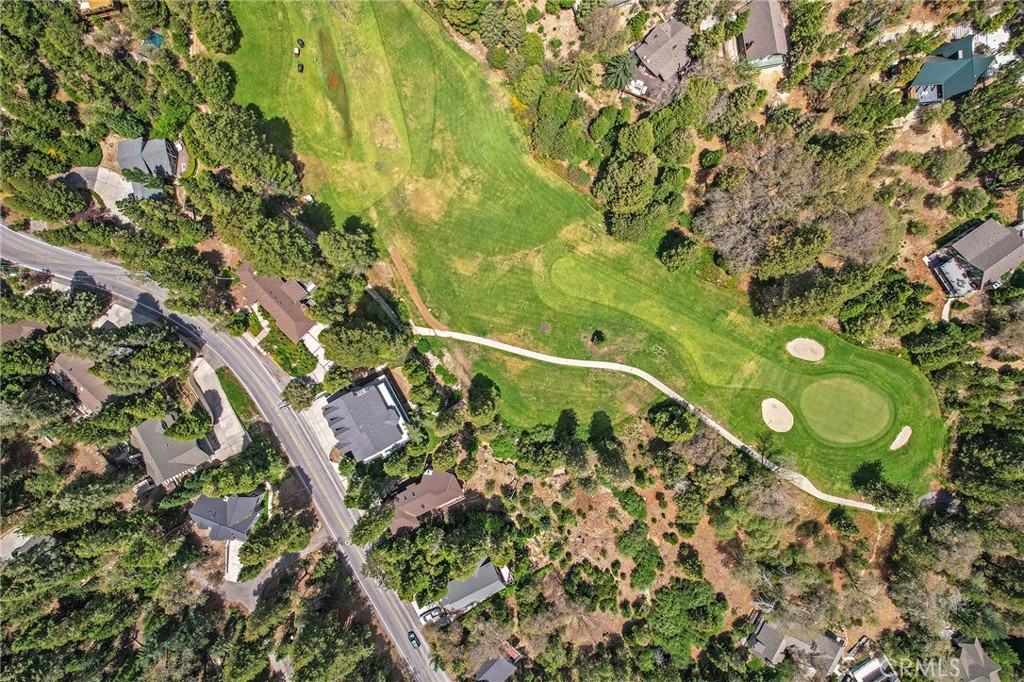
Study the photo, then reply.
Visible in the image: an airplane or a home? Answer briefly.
home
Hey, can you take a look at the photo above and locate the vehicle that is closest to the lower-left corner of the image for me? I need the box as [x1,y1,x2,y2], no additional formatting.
[10,544,24,562]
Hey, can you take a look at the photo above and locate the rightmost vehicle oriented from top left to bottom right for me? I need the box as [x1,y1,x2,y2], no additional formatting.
[407,630,420,647]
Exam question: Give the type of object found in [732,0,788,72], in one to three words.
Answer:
house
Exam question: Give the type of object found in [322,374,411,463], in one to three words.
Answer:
house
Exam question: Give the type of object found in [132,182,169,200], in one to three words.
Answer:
building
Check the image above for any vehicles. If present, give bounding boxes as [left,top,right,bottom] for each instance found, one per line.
[294,47,301,58]
[297,39,306,50]
[305,195,314,203]
[10,544,24,562]
[407,630,420,647]
[298,64,305,74]
[422,608,440,621]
